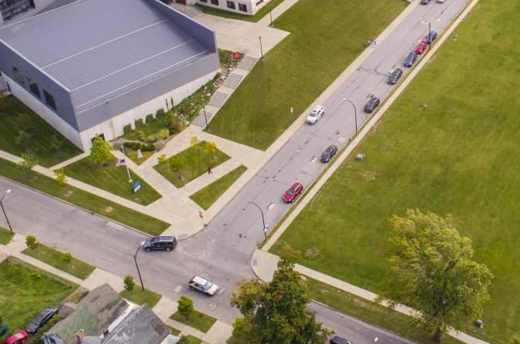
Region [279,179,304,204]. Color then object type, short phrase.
red car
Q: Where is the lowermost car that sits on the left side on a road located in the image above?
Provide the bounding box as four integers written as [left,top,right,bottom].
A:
[188,273,222,298]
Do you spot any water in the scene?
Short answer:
No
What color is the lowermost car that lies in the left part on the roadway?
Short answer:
white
